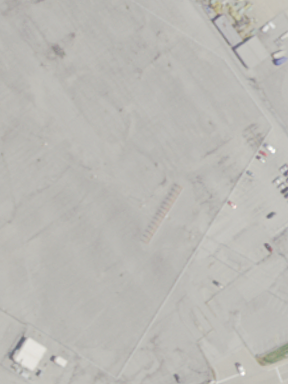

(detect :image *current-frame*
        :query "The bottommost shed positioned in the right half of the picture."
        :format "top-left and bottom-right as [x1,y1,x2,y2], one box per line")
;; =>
[236,36,270,68]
